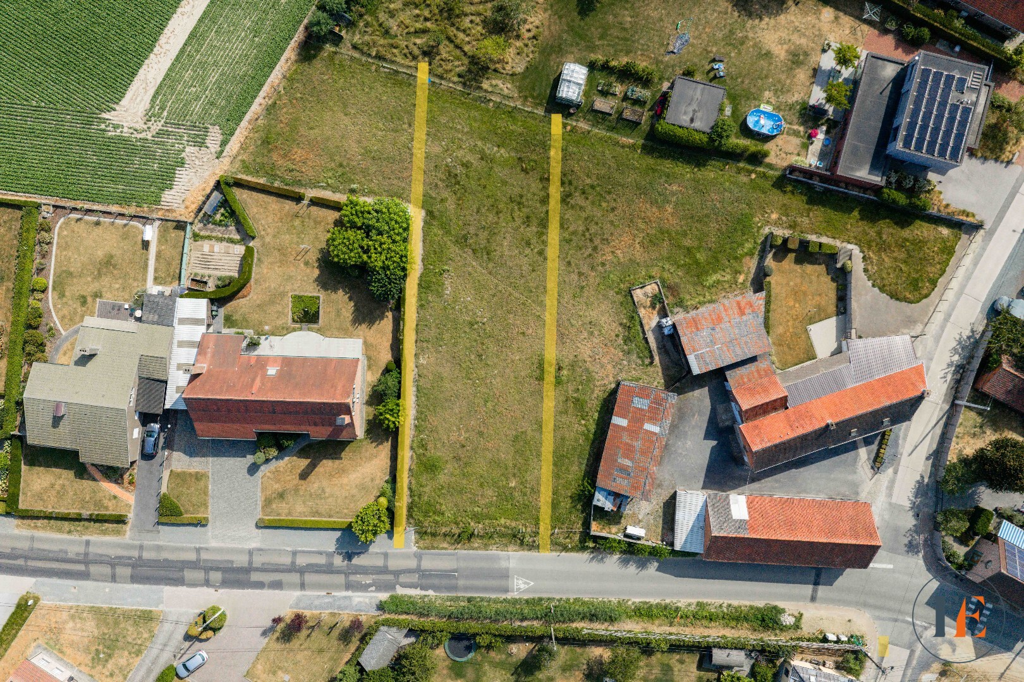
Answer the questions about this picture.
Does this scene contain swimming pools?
Yes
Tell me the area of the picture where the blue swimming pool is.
top right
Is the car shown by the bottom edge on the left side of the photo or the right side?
left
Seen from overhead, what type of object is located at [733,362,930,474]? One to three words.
house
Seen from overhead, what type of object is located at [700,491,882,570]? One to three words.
barn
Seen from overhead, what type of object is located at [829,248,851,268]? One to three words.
shed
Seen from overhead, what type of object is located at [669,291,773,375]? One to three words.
shed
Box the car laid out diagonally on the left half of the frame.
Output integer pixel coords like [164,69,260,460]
[177,650,211,677]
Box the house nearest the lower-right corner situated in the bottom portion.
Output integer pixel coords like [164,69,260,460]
[952,520,1024,613]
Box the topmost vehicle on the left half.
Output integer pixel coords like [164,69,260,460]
[143,421,163,455]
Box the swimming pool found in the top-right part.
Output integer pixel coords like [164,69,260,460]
[743,108,785,138]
